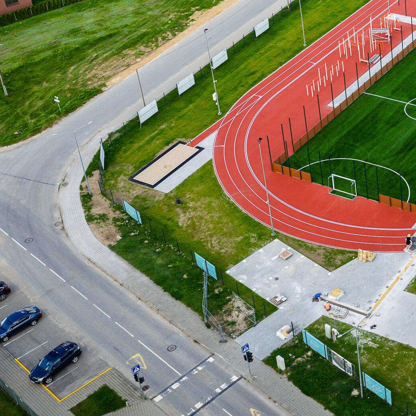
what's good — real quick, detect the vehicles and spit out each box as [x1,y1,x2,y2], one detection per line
[0,284,13,304]
[0,307,45,344]
[29,342,84,384]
